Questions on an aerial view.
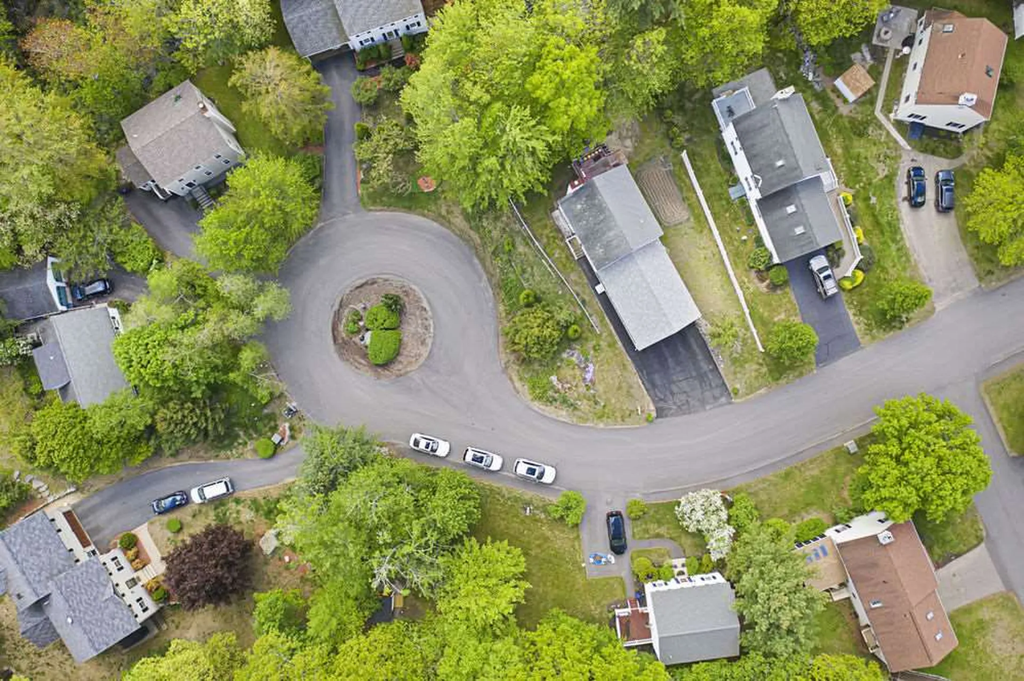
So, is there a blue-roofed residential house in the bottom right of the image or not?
No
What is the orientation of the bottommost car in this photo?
from top to bottom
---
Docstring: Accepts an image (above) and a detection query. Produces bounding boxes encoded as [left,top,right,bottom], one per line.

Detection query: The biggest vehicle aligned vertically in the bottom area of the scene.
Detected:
[606,509,628,553]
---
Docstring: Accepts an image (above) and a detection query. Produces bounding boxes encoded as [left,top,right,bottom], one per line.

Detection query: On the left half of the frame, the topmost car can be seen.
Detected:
[74,277,120,301]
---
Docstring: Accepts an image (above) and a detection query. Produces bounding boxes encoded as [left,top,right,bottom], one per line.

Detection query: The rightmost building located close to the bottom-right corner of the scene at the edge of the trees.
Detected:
[786,511,961,672]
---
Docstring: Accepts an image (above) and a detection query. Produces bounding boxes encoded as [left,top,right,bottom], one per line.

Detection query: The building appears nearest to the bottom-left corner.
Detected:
[0,504,166,664]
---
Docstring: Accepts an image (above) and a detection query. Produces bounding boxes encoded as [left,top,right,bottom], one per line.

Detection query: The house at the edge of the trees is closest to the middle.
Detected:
[545,148,702,351]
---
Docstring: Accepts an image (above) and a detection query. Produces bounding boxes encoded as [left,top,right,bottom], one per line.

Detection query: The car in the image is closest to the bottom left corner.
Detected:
[151,491,190,514]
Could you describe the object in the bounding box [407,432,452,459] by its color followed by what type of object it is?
white car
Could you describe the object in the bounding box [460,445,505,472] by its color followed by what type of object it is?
white car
